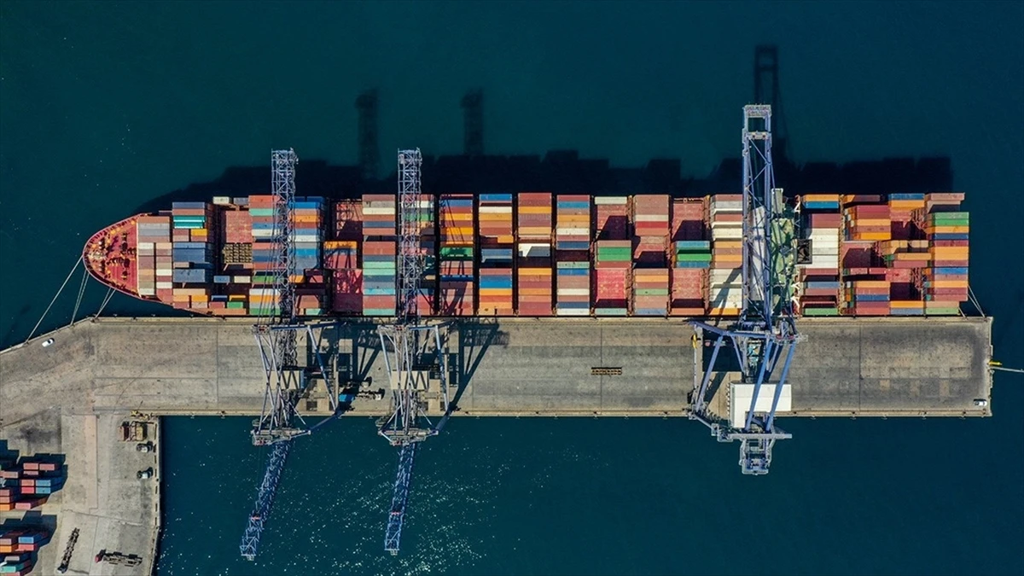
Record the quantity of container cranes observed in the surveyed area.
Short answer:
3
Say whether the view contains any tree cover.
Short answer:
No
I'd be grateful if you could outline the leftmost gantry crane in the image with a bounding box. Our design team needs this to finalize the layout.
[233,142,349,563]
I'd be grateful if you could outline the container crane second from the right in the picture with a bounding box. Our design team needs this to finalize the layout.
[372,142,458,563]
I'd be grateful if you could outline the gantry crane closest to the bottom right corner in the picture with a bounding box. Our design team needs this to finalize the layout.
[685,103,813,474]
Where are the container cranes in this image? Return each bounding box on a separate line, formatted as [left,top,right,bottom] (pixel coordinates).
[233,142,349,563]
[685,103,813,474]
[372,142,458,563]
